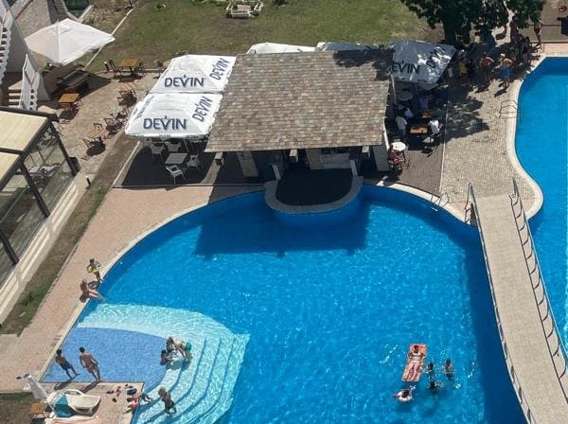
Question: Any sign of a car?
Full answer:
No, the scene contains no car.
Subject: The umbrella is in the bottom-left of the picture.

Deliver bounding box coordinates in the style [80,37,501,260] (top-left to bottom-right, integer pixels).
[1,364,57,417]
